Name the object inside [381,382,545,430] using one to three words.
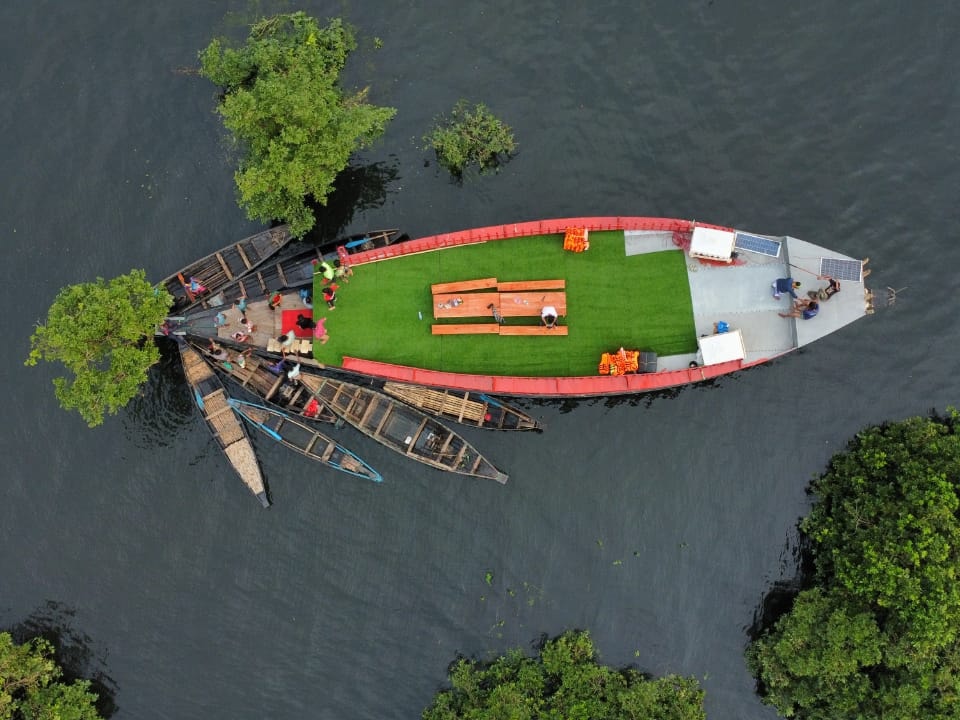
boat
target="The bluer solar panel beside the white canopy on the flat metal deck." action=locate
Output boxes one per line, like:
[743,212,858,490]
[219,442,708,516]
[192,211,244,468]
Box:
[735,232,779,257]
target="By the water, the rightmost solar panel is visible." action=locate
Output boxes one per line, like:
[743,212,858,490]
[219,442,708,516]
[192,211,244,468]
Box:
[819,258,862,282]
